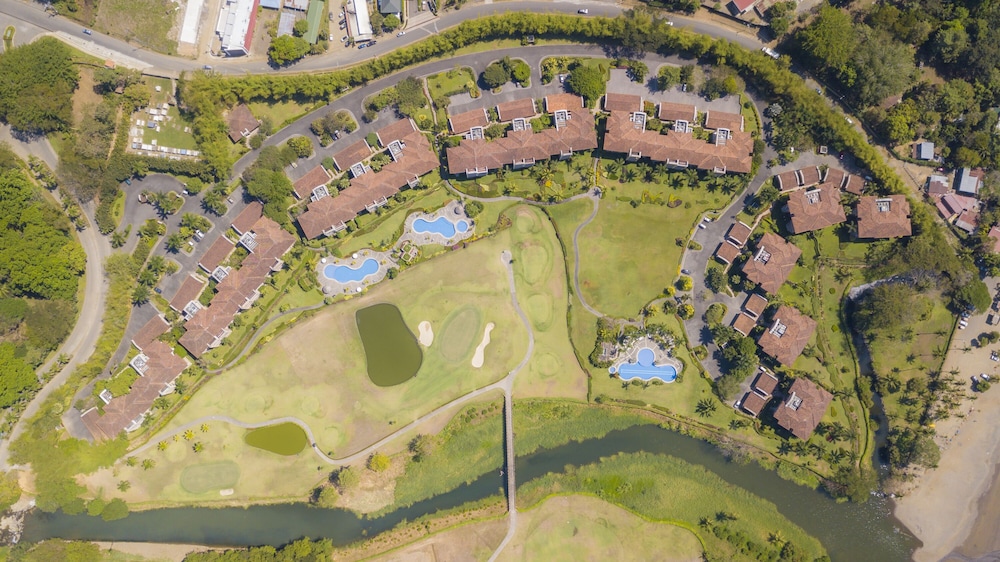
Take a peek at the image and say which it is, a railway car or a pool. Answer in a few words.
pool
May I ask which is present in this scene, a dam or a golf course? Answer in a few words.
golf course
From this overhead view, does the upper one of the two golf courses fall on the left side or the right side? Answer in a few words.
left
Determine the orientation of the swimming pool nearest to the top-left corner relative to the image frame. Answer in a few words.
from left to right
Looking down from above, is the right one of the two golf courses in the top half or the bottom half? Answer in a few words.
bottom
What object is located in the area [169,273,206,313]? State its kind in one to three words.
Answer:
building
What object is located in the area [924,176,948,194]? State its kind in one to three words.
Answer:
house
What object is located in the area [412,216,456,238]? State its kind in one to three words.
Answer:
swimming pool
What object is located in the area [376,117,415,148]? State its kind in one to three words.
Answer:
building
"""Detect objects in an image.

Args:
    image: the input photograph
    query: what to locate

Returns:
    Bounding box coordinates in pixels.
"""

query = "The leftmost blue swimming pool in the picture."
[323,258,380,283]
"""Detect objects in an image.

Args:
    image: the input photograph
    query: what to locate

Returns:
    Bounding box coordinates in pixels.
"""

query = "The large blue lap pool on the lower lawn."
[617,348,677,382]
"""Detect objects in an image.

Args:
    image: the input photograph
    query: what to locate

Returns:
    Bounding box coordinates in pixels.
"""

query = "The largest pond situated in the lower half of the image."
[357,302,423,386]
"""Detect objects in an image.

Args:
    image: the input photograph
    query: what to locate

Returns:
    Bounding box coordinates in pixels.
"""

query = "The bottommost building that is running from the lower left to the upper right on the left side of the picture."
[95,337,193,439]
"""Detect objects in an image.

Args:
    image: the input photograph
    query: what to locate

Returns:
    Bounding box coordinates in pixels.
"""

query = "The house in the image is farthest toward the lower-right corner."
[772,380,833,439]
